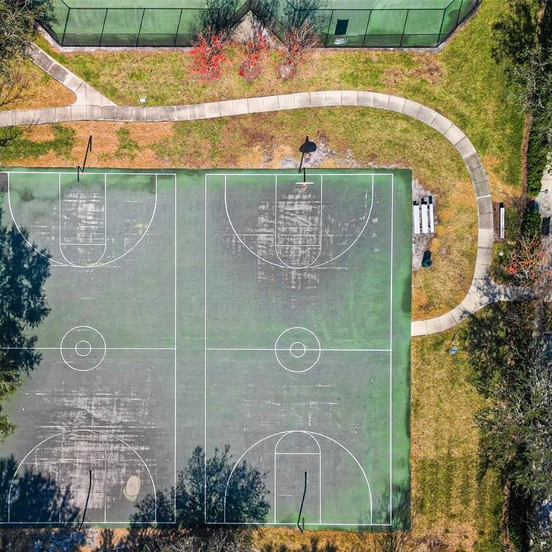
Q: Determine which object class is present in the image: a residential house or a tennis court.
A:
tennis court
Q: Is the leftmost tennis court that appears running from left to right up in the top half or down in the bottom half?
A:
top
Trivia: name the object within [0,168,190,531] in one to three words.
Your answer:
basketball court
